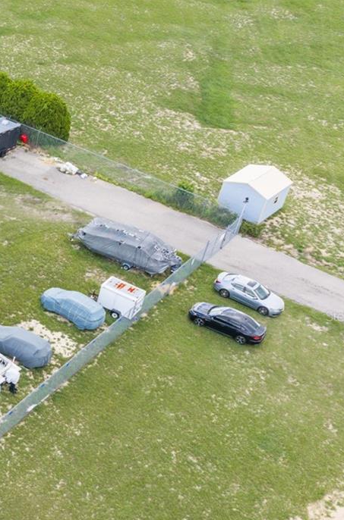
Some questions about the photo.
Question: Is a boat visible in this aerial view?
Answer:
Yes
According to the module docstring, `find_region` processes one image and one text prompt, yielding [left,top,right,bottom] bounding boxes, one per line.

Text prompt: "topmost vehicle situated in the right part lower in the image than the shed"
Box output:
[214,271,288,317]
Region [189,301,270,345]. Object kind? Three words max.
car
